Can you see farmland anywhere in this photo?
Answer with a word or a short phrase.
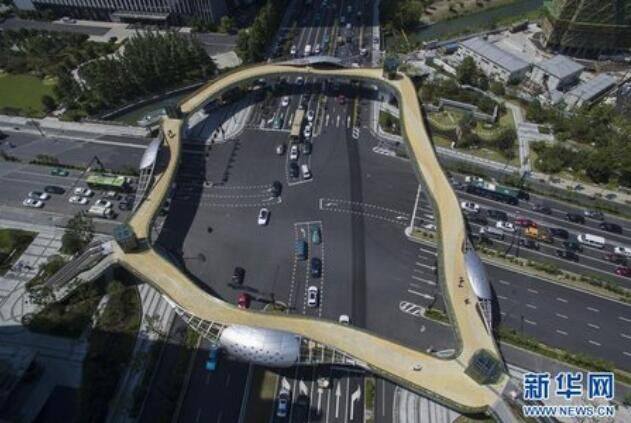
No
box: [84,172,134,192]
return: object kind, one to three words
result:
vehicle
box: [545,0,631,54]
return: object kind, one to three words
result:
building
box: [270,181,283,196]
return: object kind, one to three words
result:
vehicle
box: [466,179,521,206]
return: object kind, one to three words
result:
bus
